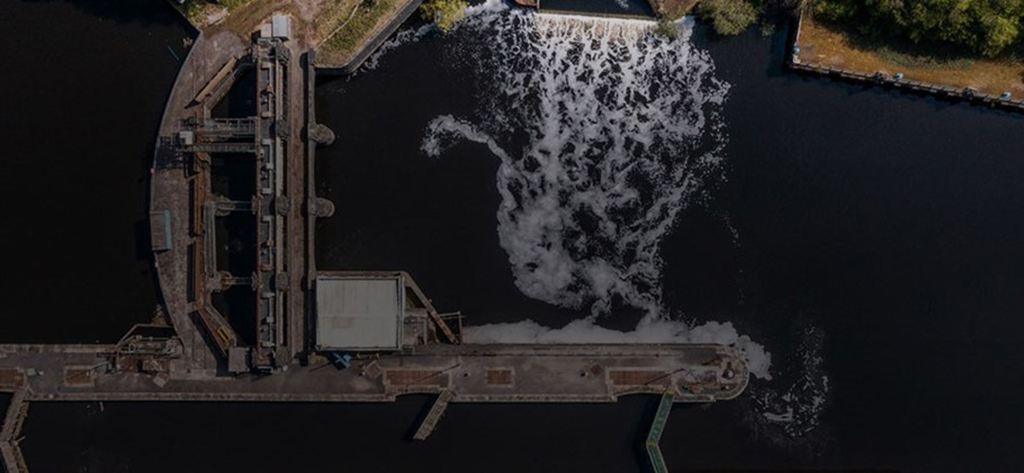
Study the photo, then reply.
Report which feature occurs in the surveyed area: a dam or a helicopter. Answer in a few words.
dam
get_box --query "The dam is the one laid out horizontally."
[514,0,666,41]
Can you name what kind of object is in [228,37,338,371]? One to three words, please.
dam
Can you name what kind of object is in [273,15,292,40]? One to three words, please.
building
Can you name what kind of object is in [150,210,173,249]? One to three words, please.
shed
